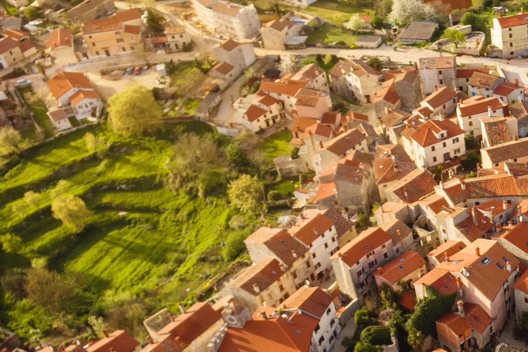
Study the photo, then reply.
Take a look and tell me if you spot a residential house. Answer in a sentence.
Yes, the frame does contain a residential house.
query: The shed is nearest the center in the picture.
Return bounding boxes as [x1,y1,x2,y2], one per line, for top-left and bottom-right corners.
[275,152,309,180]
